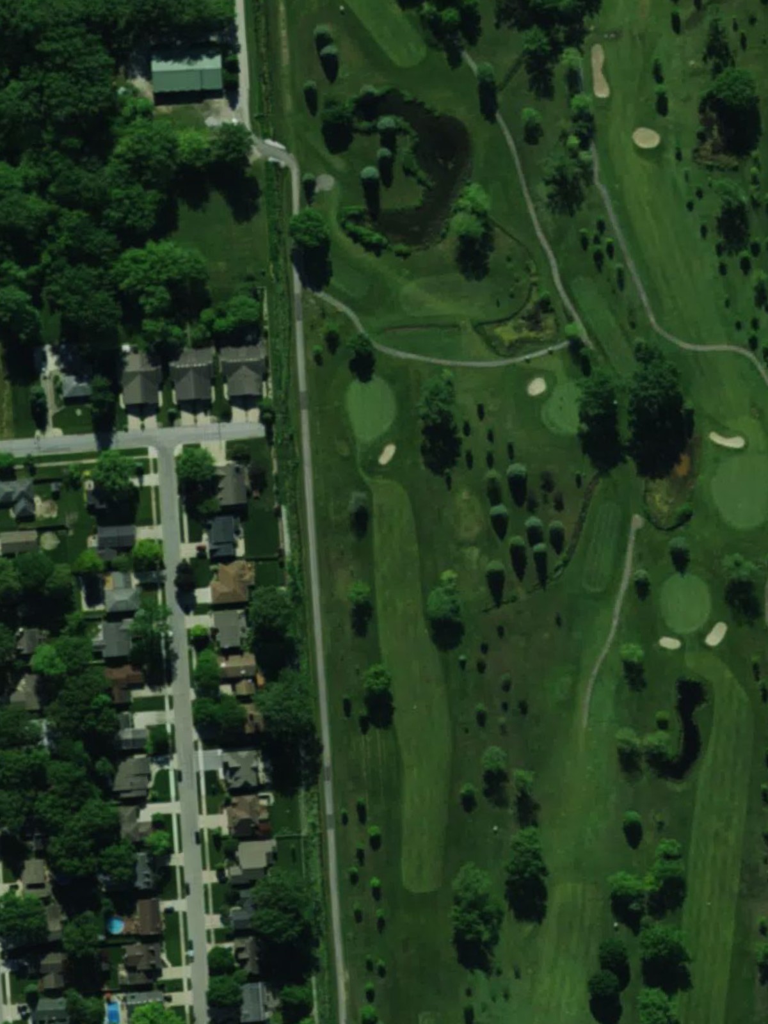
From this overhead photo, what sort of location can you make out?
golf course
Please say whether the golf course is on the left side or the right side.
right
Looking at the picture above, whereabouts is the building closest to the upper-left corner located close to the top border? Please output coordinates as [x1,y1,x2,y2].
[151,46,222,92]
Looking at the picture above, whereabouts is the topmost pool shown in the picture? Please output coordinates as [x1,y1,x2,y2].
[107,917,124,934]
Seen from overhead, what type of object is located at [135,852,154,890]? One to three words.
house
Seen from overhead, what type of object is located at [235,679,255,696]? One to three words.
building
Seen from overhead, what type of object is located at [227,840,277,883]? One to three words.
house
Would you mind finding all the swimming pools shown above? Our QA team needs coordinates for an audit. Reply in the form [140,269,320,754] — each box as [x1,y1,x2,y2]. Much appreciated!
[107,917,124,934]
[104,999,122,1024]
